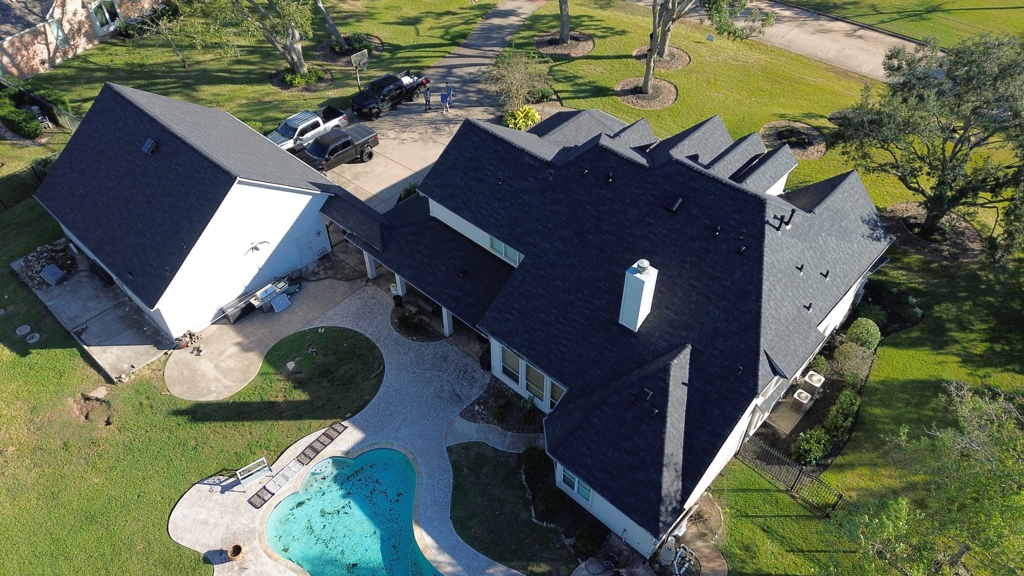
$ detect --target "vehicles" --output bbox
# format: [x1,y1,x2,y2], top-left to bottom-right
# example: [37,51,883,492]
[346,71,432,122]
[263,103,358,157]
[292,122,387,180]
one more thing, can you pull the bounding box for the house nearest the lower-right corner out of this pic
[343,109,896,560]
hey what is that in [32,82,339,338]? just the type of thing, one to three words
building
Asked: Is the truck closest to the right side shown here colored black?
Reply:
Yes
